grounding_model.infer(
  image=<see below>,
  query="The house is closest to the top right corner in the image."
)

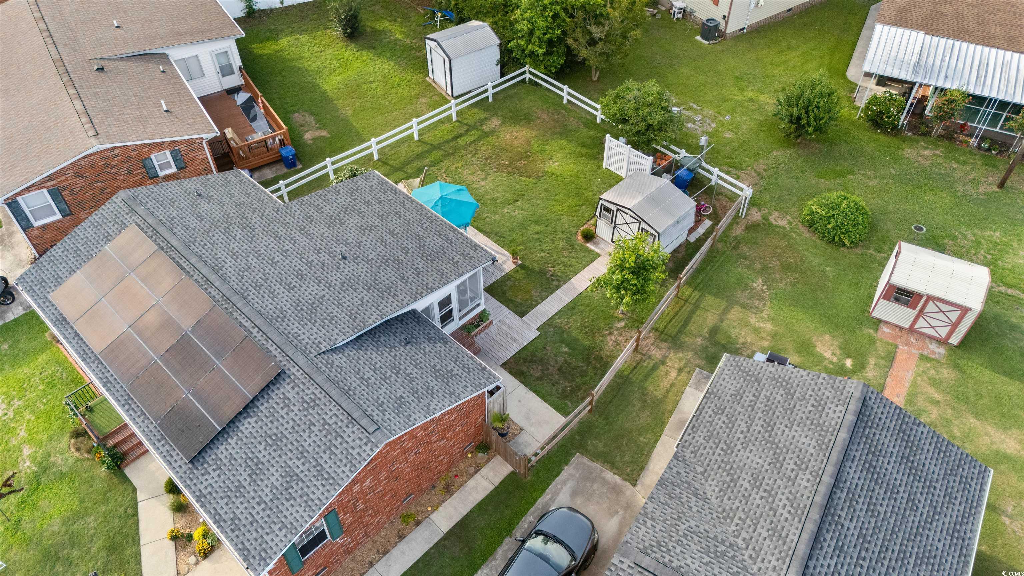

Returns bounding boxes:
[854,0,1024,154]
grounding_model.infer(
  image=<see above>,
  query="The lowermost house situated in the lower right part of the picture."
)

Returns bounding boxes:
[605,355,998,576]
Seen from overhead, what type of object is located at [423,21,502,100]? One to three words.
shed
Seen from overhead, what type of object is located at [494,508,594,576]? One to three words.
car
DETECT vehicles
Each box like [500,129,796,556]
[0,273,12,305]
[494,508,594,576]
